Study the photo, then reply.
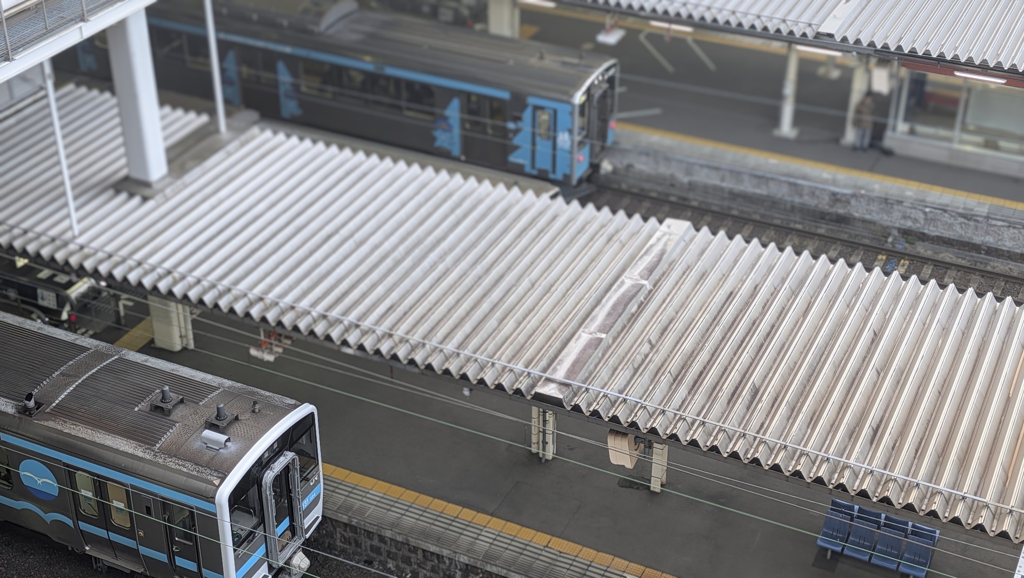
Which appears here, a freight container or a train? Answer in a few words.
train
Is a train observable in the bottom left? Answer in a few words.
Yes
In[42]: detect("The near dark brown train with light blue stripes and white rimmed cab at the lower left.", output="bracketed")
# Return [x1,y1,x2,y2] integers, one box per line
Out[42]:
[0,308,327,578]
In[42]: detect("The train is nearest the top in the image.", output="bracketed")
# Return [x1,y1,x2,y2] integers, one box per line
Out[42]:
[70,0,613,202]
